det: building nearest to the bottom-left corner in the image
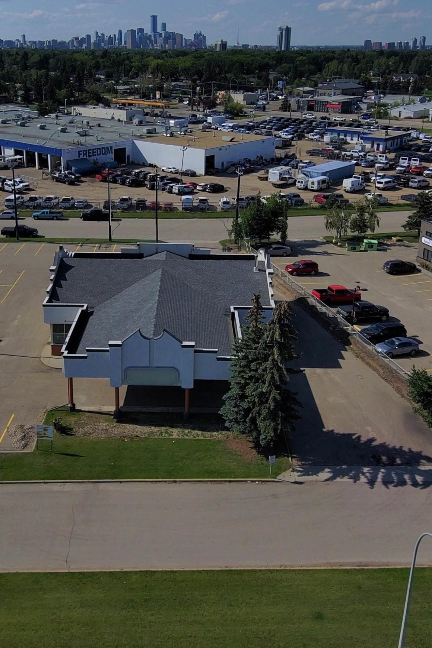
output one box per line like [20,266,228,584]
[41,240,275,415]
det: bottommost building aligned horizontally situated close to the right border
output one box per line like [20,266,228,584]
[326,126,415,150]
